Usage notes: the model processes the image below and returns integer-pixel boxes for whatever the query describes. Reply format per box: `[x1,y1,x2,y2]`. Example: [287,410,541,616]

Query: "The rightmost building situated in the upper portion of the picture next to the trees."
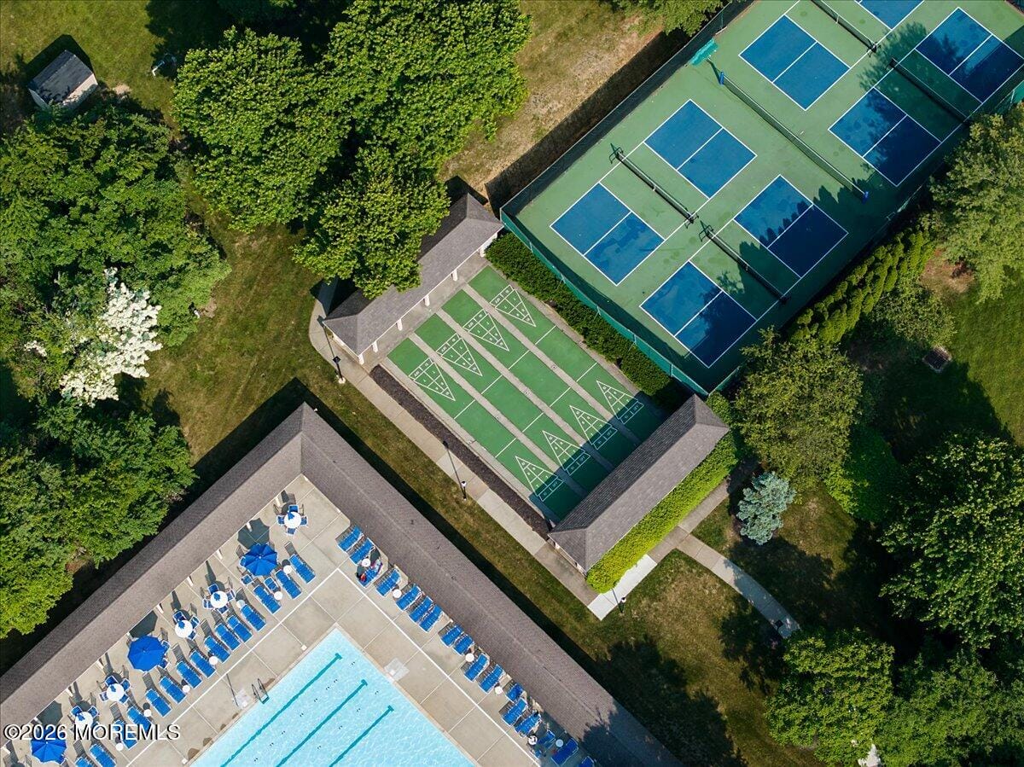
[323,192,504,367]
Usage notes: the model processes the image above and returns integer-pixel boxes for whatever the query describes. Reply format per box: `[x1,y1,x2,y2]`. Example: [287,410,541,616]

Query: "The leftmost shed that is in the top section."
[27,51,99,123]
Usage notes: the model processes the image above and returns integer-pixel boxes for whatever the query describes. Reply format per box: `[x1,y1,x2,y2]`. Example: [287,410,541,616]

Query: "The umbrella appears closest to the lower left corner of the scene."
[31,726,67,764]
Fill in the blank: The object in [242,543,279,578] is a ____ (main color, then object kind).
blue umbrella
